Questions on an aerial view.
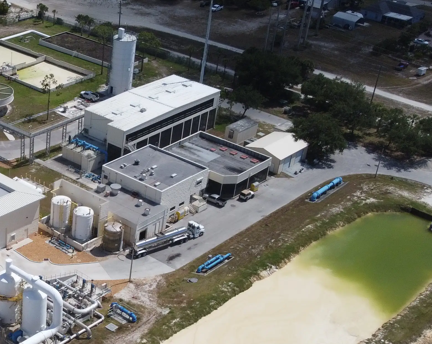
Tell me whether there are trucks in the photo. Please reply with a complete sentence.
Yes, I can see a truck in this picture.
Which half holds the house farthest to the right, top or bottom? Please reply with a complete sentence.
You can find the house farthest to the right in the top half.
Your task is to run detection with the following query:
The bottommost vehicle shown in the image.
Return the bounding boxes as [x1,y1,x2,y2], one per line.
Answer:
[123,217,205,255]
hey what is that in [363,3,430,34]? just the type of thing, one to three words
house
